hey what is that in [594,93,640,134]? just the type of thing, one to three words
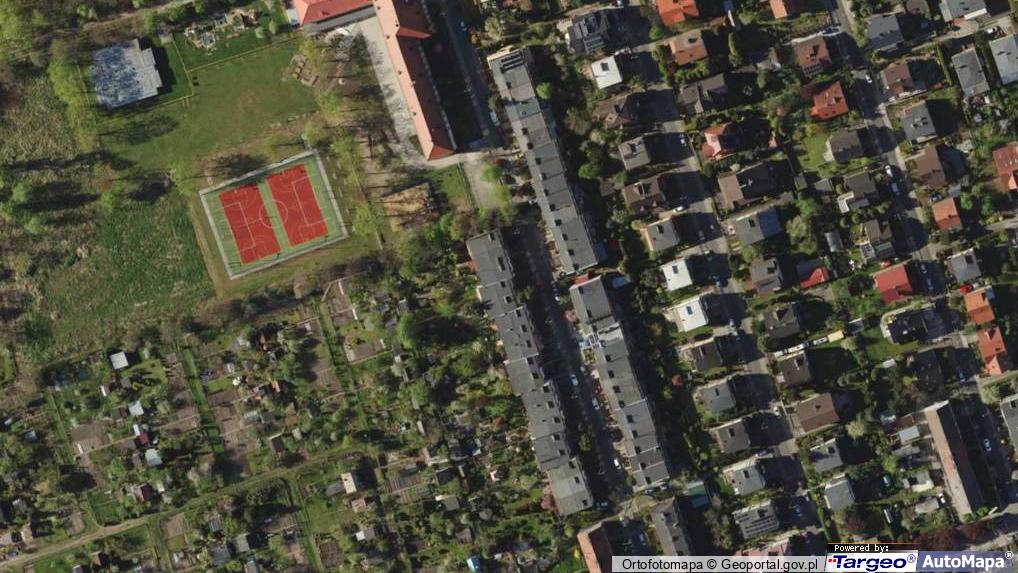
house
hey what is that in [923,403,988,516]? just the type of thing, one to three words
building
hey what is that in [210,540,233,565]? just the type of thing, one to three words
shed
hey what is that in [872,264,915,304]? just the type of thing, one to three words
house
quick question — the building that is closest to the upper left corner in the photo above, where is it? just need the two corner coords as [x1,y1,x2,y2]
[92,39,162,109]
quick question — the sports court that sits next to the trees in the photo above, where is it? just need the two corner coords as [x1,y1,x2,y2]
[200,150,348,279]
